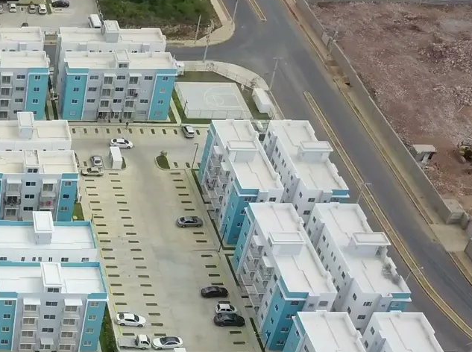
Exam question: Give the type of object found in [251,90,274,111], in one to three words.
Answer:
shed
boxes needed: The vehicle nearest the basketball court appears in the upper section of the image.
[179,124,197,139]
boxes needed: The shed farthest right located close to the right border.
[439,196,472,223]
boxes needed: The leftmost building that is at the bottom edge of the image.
[0,262,110,352]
